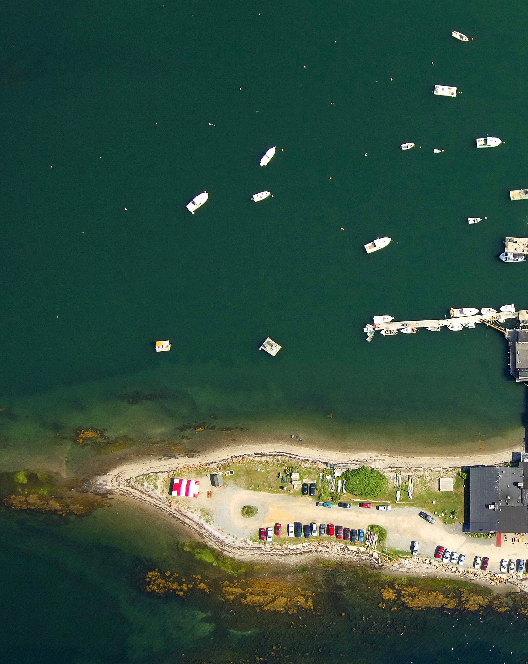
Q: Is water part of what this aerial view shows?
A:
Yes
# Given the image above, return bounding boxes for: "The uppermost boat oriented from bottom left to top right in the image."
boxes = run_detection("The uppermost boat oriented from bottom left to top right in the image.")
[259,148,275,167]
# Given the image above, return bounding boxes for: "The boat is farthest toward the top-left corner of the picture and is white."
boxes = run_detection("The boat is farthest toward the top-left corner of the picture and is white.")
[185,194,208,212]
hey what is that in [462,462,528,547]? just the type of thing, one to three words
building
